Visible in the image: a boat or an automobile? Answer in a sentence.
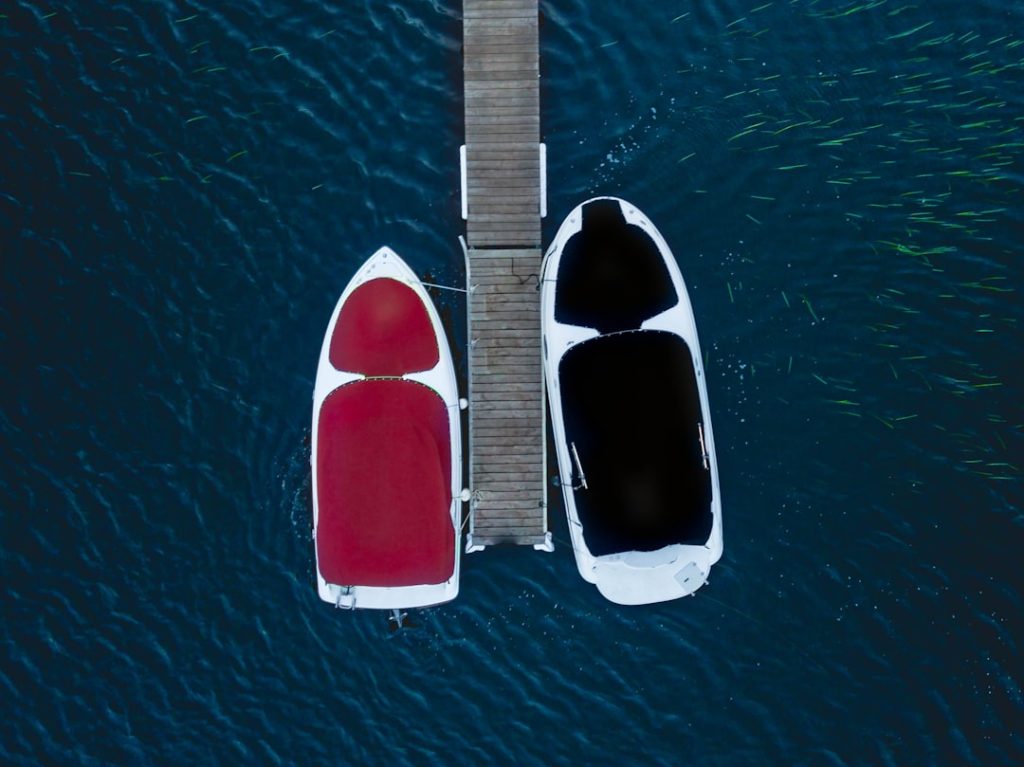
There is a boat in the scene.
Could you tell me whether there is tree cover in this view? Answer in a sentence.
No, there is no tree cover in the image.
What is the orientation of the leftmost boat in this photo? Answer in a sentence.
In this picture, the leftmost boat lies from top to bottom.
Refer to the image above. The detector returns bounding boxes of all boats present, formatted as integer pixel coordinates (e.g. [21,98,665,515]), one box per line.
[539,195,723,605]
[312,245,463,628]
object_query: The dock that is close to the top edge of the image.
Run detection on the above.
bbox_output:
[460,0,547,246]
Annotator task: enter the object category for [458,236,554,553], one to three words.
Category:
pier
